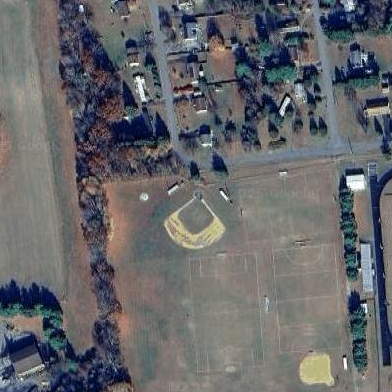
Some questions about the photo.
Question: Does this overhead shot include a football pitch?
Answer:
Yes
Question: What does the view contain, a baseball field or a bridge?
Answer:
baseball field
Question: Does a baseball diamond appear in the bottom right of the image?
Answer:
Yes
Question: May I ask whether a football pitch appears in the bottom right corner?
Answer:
Yes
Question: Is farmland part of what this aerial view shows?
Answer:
Yes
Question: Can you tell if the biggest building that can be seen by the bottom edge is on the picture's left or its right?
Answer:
left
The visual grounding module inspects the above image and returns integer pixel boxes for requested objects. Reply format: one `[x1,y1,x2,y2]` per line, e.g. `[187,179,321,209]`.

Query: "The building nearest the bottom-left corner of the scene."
[9,344,45,379]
